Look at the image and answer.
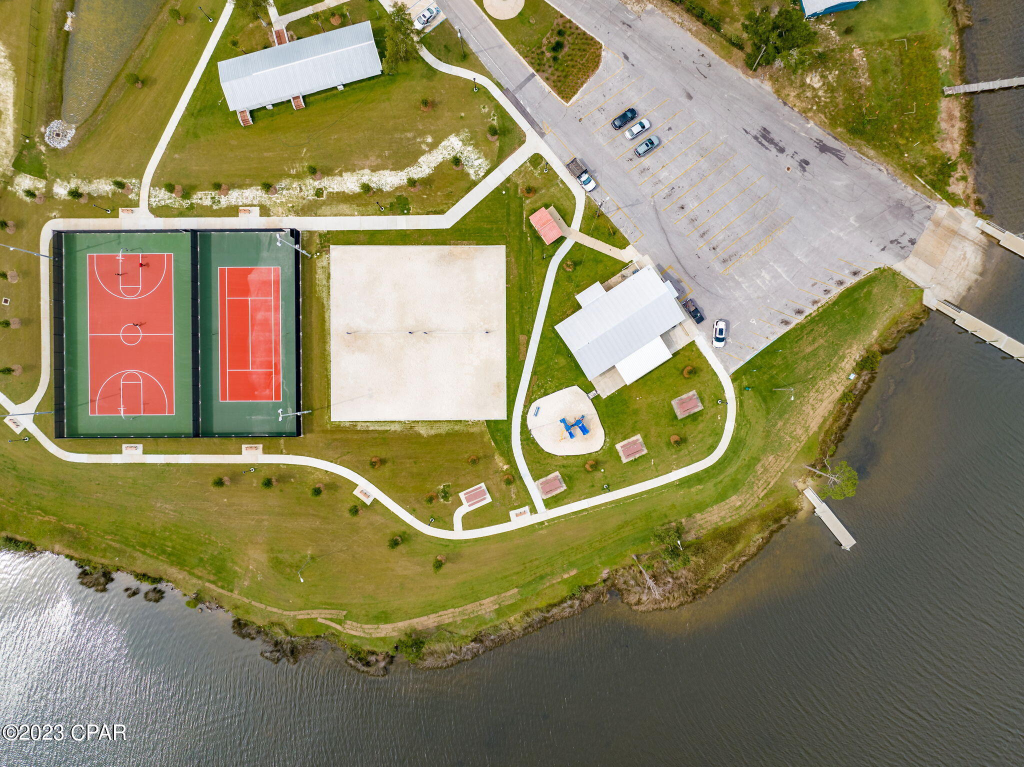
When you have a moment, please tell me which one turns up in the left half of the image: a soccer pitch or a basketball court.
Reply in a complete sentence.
The one visible in the left half of the image is a basketball court.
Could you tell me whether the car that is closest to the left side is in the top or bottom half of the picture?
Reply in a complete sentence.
The top half of the photo is where the car that is closest to the left side is.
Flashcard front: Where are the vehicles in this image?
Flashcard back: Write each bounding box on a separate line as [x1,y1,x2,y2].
[681,296,706,325]
[712,319,727,348]
[414,6,440,30]
[625,119,650,140]
[611,107,638,130]
[634,136,660,158]
[566,156,596,193]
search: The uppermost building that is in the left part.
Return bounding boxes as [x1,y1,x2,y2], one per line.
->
[218,20,382,126]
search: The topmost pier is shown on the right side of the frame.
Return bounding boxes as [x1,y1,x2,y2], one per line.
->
[941,77,1024,98]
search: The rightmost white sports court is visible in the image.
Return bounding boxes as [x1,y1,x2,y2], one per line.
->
[330,245,506,420]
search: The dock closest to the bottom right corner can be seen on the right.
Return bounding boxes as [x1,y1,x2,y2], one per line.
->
[803,486,856,550]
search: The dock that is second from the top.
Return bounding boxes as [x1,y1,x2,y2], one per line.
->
[975,219,1024,259]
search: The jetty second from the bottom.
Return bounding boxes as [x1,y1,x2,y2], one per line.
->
[941,300,1024,362]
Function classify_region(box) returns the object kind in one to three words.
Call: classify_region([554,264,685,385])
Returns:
building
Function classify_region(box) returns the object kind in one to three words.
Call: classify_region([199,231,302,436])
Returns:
tennis court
